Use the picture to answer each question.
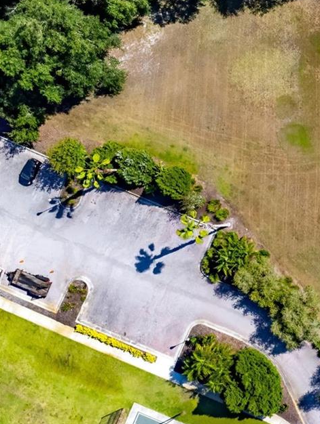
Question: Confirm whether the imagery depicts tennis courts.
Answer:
No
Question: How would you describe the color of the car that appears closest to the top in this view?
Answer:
black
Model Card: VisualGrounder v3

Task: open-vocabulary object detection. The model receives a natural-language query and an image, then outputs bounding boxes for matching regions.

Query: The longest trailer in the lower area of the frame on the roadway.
[3,270,48,299]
